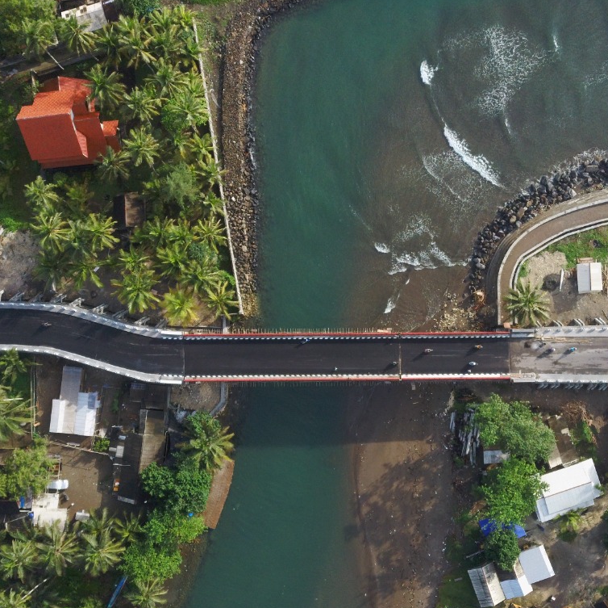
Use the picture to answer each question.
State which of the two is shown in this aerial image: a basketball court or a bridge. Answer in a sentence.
Looking from above, you can make out a bridge.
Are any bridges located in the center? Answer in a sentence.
Yes, a bridge can be seen in the center.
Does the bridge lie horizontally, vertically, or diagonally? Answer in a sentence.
Seen from above, the bridge lies horizontally.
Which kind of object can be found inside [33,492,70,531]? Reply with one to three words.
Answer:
house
